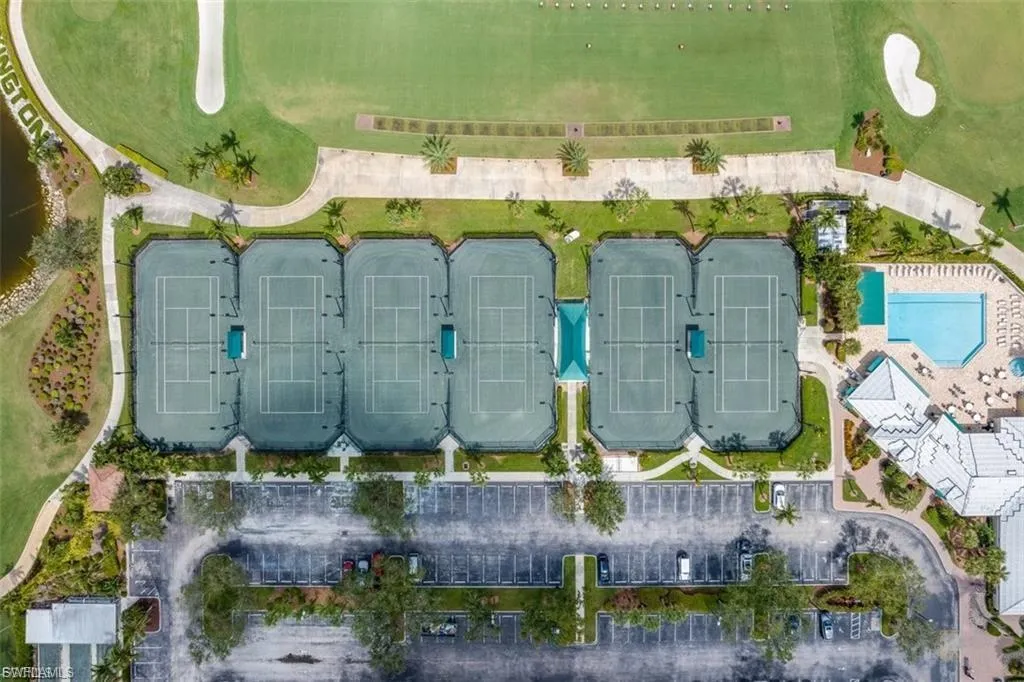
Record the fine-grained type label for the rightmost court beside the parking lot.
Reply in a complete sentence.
I'd say the rightmost court beside the parking lot is a tennis court.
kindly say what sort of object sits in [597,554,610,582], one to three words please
vehicle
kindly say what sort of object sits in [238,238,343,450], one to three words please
tennis court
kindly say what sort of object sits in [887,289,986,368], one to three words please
swimming pool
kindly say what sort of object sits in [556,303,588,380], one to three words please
building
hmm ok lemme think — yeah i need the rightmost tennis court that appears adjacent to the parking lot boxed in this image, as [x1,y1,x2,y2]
[693,238,800,449]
